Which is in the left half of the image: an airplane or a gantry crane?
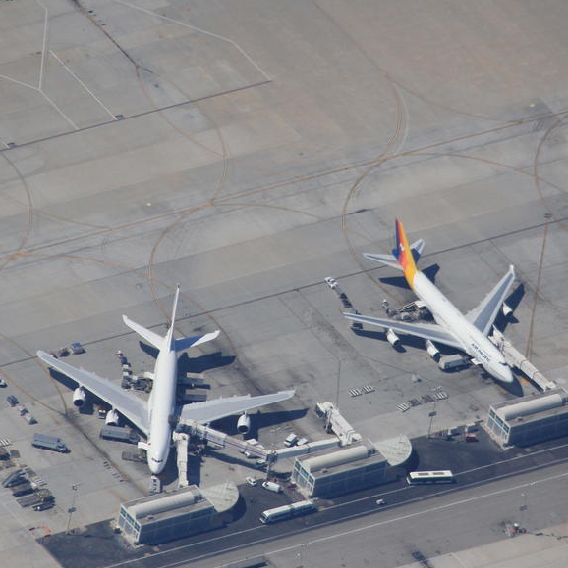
airplane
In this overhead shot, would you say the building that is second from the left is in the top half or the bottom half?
bottom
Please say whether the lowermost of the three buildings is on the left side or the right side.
left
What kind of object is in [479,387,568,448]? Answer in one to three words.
building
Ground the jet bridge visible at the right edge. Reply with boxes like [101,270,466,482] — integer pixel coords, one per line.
[482,331,560,394]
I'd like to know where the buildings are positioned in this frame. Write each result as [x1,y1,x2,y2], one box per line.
[284,432,406,500]
[112,478,235,546]
[479,387,568,448]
